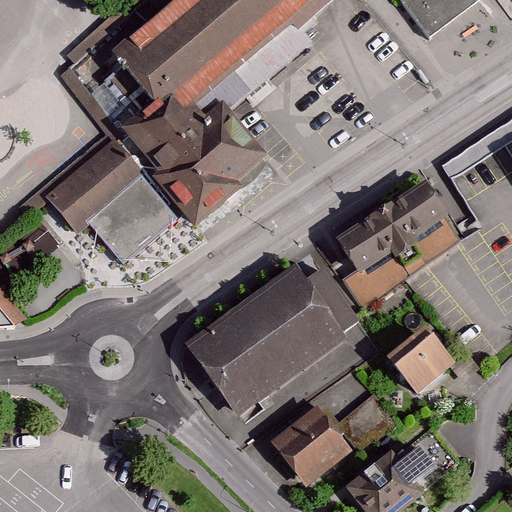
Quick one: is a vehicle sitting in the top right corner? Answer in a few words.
Yes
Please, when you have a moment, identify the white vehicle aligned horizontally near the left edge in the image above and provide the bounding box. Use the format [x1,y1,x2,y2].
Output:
[15,435,42,448]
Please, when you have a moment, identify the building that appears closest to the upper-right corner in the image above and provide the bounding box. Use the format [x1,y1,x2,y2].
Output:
[400,0,480,41]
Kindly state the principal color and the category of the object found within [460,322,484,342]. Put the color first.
white vehicle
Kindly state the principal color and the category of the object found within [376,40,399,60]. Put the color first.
white car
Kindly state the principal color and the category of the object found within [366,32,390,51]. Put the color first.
white car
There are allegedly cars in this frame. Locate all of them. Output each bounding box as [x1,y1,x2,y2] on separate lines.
[60,464,72,490]
[466,170,480,186]
[340,100,366,121]
[366,32,390,51]
[294,90,320,112]
[353,110,376,128]
[106,450,124,474]
[460,502,479,512]
[240,109,262,128]
[124,472,140,495]
[309,111,332,130]
[390,60,414,80]
[144,486,162,512]
[248,118,272,138]
[136,478,152,502]
[328,130,350,148]
[155,495,171,512]
[376,40,399,60]
[347,11,373,32]
[490,234,512,253]
[116,460,133,484]
[0,428,11,452]
[474,160,498,184]
[318,73,341,92]
[307,65,330,84]
[330,92,356,113]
